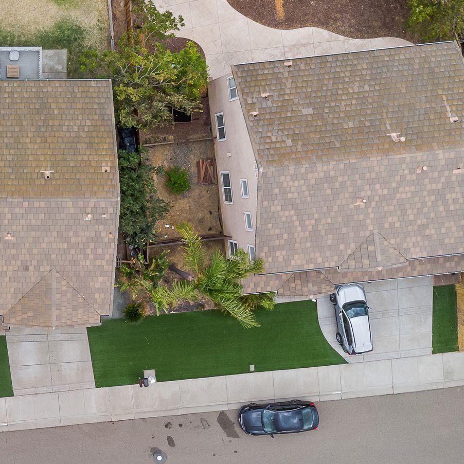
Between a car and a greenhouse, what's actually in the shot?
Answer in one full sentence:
It is a car that can be seen here.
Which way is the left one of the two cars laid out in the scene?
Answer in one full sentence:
In this picture, the left one of the two cars is oriented horizontally.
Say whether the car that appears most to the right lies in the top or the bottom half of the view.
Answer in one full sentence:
Seen from above, the car that appears most to the right lies in the bottom half of the view.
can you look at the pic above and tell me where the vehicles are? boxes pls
[237,398,318,439]
[330,285,377,356]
